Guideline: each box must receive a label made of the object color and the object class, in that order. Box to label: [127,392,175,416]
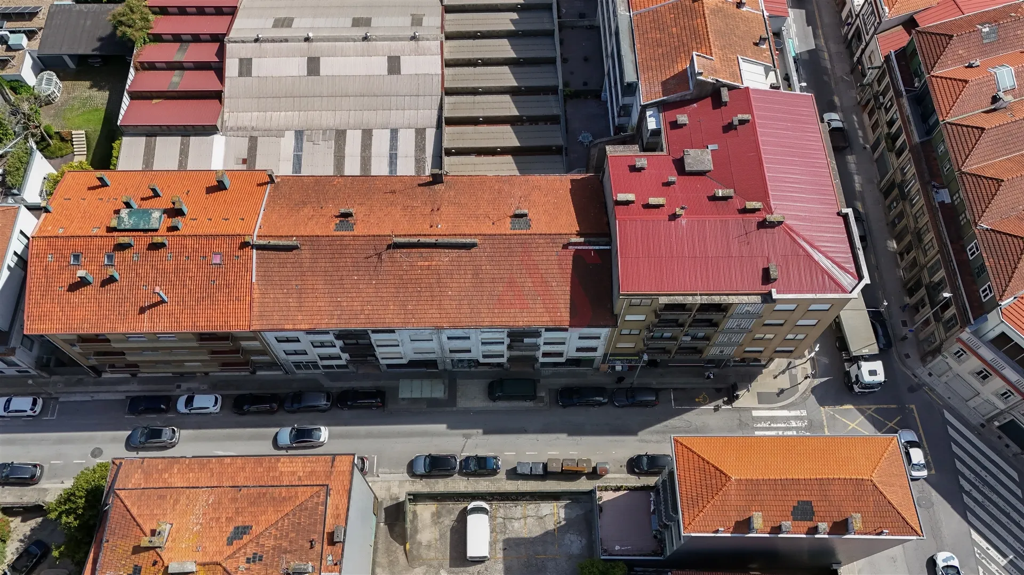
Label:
black car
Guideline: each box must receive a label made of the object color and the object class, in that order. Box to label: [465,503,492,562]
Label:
white vehicle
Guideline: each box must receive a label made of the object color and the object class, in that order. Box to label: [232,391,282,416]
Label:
black car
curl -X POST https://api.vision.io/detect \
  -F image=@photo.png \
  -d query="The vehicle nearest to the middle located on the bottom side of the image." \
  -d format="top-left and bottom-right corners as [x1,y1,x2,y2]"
[488,377,536,401]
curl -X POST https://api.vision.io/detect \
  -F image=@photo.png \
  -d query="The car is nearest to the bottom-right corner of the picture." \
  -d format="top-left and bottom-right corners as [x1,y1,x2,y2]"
[933,549,964,575]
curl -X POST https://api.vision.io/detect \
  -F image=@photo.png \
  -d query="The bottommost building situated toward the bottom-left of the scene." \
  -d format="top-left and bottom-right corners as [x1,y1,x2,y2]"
[82,453,375,575]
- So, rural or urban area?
urban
